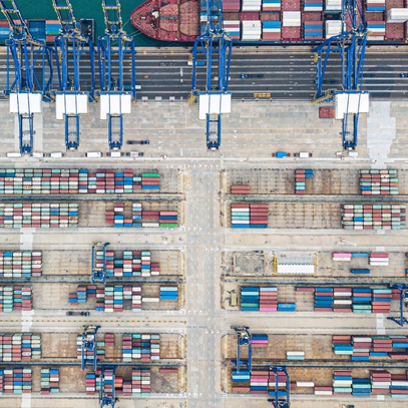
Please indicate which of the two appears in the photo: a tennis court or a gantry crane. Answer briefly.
gantry crane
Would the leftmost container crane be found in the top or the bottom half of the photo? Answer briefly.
top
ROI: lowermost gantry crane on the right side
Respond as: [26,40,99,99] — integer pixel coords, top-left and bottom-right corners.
[265,359,290,408]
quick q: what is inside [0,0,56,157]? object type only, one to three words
container crane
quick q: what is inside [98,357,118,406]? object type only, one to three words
container crane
